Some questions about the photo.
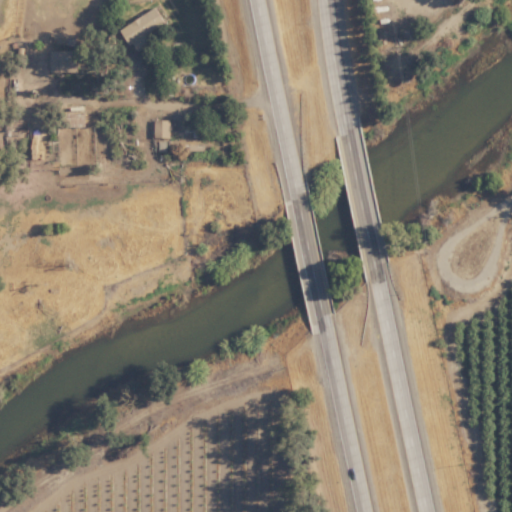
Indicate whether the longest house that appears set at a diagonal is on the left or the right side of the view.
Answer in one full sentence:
It is on the left.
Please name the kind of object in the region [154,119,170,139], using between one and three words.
shed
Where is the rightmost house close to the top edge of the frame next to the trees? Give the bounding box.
[120,8,167,46]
